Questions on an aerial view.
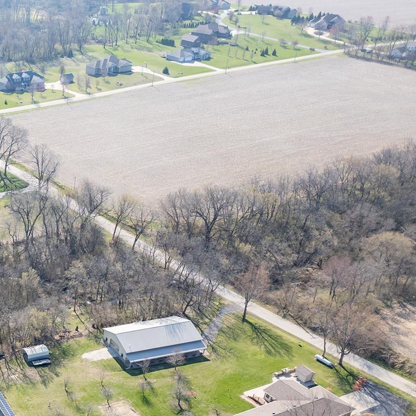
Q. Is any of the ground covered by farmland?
Yes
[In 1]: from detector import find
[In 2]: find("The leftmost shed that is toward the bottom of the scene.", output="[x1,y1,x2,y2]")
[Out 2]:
[23,345,51,362]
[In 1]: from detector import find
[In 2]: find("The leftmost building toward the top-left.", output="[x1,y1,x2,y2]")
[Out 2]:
[0,69,48,91]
